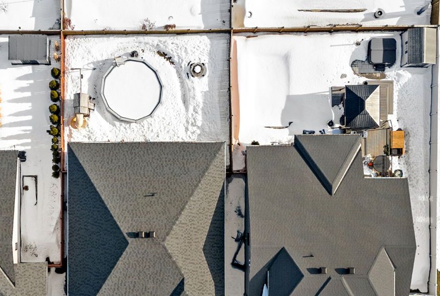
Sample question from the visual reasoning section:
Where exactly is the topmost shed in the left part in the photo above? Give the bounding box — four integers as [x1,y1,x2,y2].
[11,34,52,67]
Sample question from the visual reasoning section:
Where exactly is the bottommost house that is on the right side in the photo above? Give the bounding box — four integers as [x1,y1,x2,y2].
[243,134,416,296]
